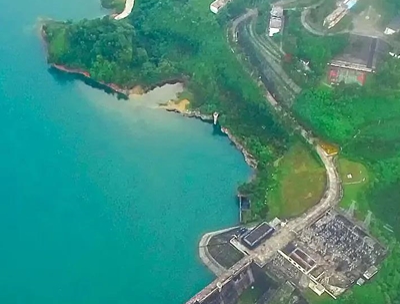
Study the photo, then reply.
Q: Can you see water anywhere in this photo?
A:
Yes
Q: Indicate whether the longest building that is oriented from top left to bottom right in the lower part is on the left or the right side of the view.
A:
right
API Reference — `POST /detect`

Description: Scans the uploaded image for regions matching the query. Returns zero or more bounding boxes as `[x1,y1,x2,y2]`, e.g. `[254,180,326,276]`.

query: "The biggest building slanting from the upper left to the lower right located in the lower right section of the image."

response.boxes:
[279,245,327,280]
